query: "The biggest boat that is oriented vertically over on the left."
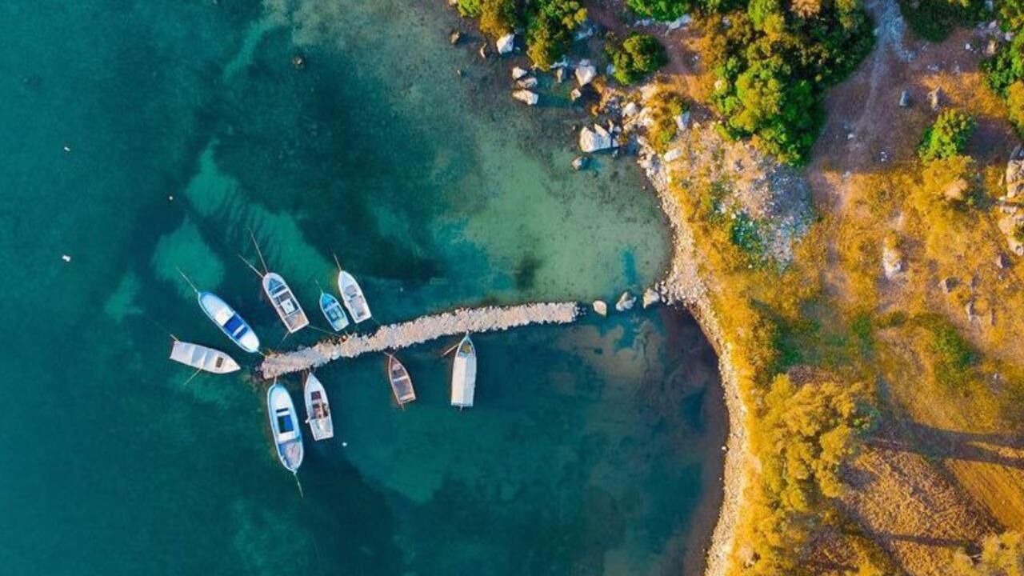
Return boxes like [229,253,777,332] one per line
[266,373,305,497]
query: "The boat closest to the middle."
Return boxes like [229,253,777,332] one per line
[451,335,476,410]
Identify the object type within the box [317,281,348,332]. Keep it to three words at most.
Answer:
boat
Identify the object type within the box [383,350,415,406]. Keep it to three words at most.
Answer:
boat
